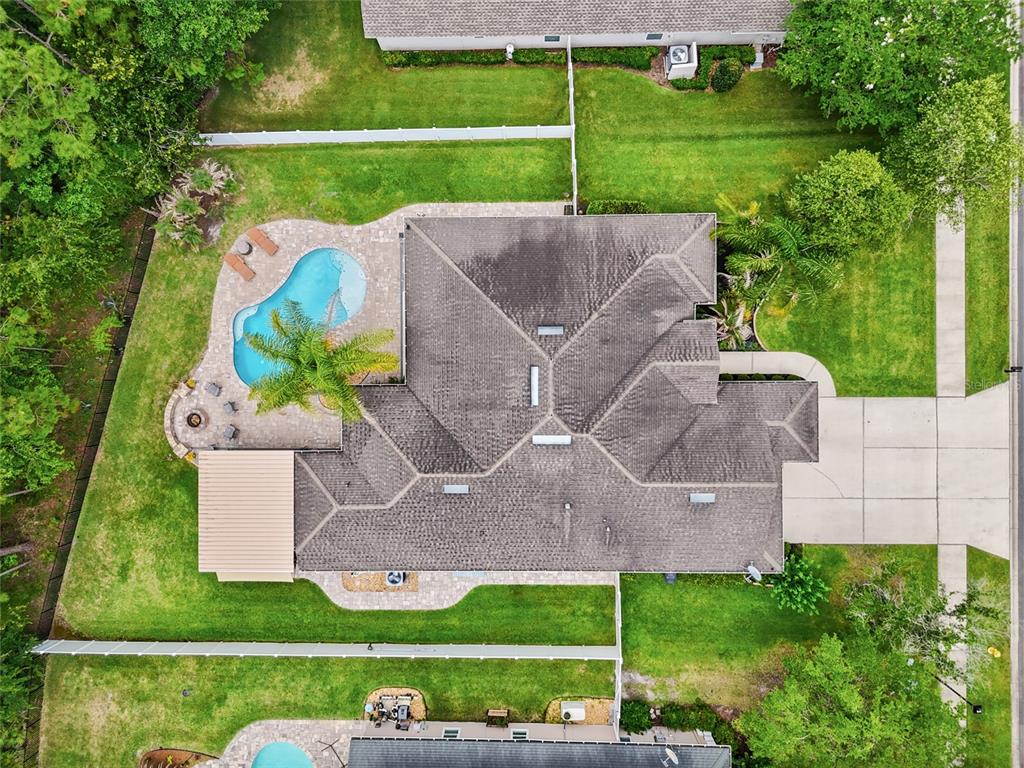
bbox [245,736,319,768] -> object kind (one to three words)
swimming pool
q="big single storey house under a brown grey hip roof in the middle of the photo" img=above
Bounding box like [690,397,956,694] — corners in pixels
[296,212,820,574]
